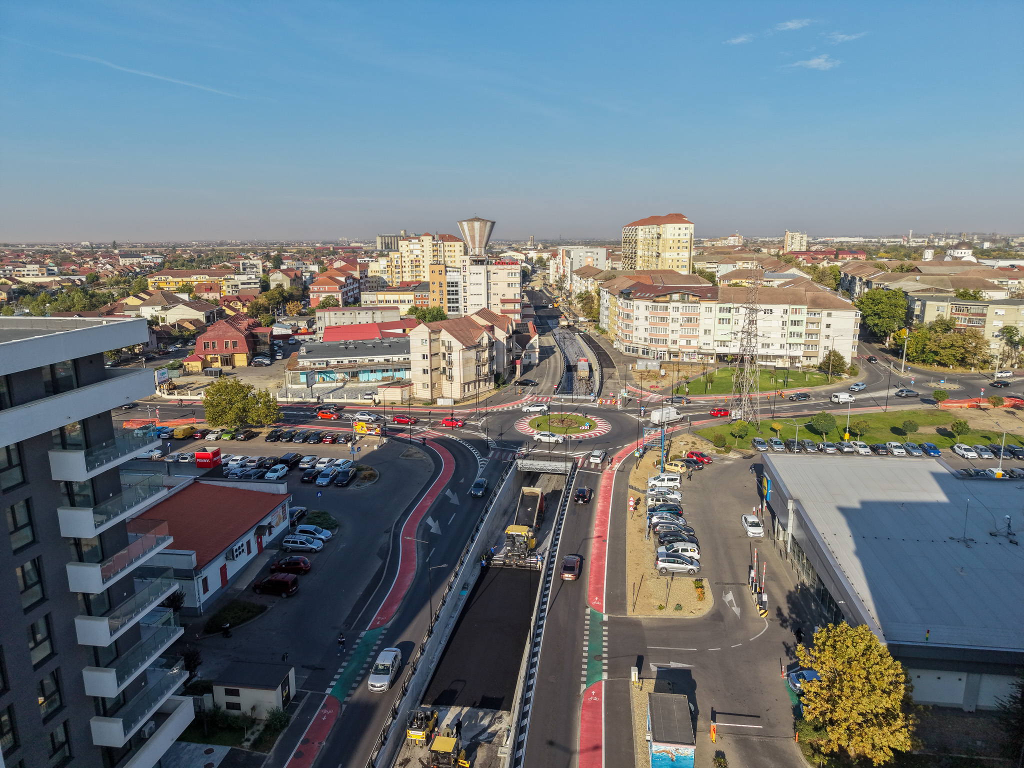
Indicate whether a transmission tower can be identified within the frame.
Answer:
Yes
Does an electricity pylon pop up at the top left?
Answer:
No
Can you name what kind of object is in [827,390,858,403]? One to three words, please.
vehicle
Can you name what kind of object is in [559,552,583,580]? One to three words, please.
car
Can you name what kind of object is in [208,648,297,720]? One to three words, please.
shed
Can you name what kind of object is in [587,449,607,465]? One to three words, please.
car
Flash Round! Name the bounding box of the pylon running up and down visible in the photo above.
[721,267,790,431]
